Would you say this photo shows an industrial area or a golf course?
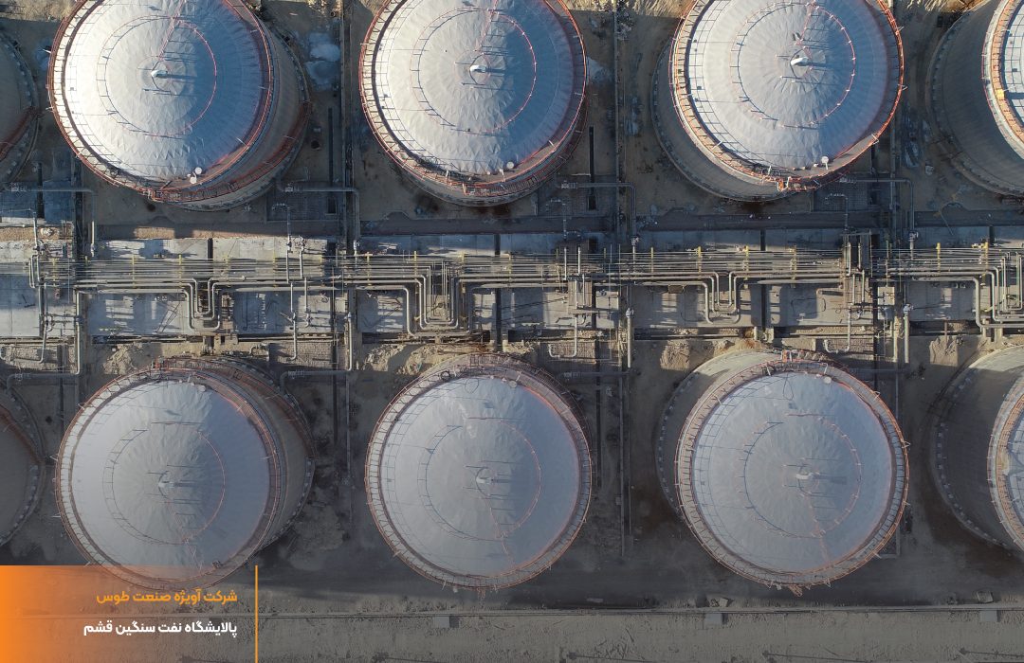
industrial area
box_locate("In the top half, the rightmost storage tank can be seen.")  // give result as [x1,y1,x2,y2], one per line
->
[927,0,1024,199]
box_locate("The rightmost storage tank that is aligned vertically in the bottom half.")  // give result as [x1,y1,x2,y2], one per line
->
[930,345,1024,555]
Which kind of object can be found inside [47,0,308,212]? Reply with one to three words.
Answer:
storage tank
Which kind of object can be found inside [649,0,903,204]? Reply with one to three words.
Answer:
storage tank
